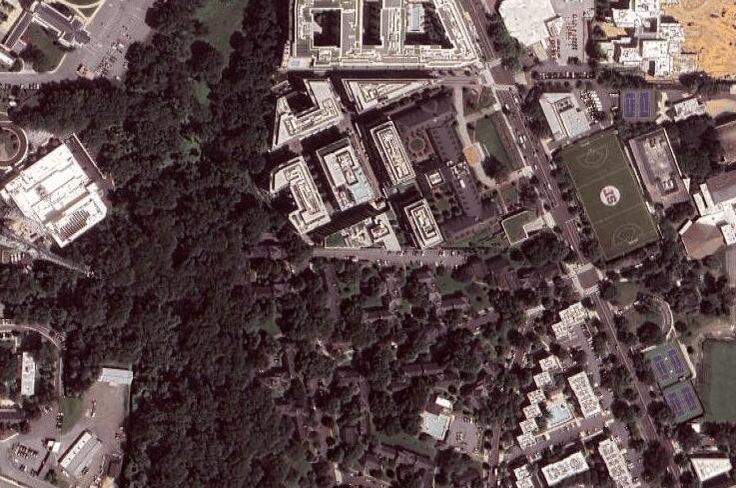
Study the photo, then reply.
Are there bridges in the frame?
No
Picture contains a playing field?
Yes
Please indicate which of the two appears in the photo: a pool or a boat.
pool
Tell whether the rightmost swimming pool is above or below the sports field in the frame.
below it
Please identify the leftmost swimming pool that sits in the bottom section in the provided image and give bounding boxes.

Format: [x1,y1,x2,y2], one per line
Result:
[420,412,450,440]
